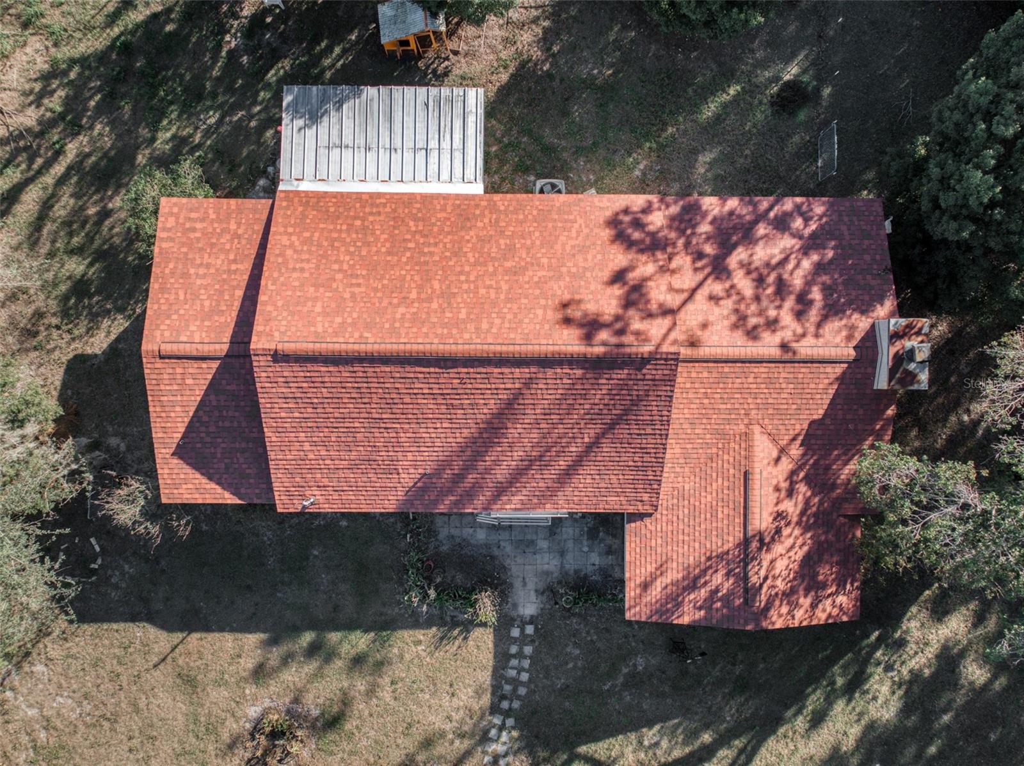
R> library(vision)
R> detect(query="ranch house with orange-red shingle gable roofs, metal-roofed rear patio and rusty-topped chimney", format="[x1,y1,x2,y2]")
[142,85,929,630]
